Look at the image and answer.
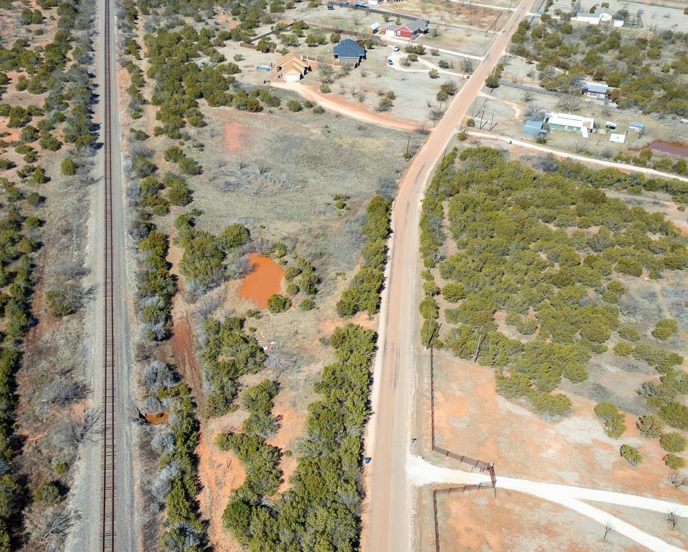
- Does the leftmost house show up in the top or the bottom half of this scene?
top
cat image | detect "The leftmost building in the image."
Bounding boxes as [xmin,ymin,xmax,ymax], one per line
[274,54,310,81]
